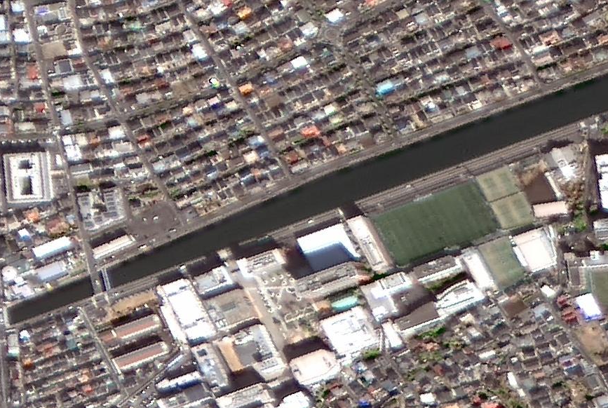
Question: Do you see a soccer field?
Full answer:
Yes, there's a soccer field down there.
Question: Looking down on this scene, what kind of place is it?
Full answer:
It's a residential area.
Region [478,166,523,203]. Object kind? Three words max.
sports court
